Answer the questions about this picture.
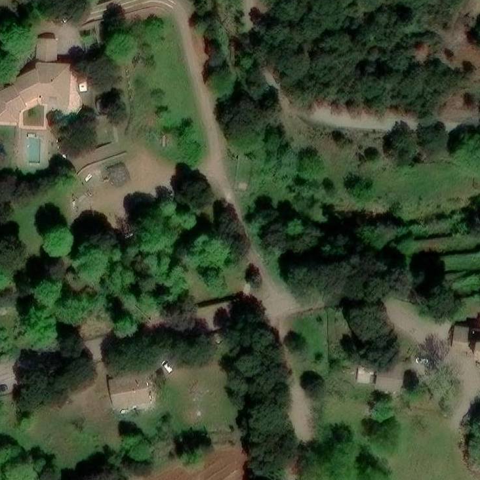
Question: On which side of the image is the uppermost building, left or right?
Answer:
left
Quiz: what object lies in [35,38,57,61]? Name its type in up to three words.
building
